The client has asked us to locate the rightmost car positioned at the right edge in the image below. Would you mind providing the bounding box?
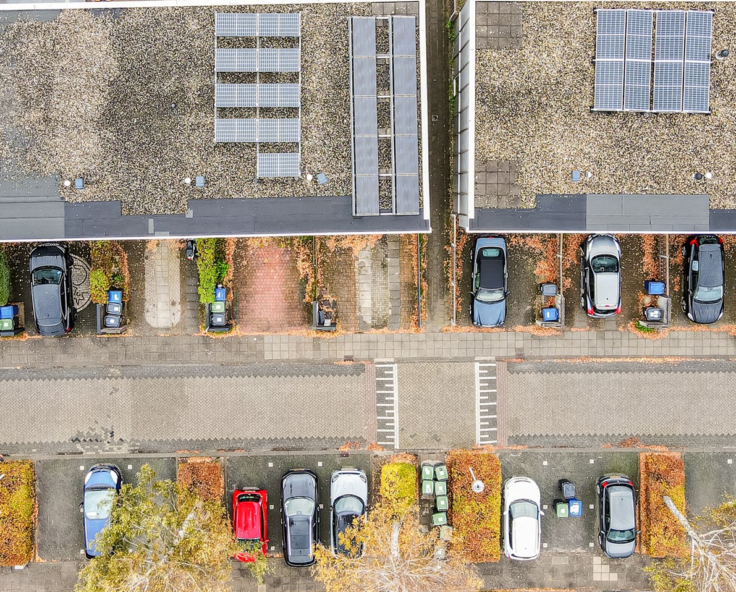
[682,235,729,324]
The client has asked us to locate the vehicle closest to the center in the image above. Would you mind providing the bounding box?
[468,234,511,326]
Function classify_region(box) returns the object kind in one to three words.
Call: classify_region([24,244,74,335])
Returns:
car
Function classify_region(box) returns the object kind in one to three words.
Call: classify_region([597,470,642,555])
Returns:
car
